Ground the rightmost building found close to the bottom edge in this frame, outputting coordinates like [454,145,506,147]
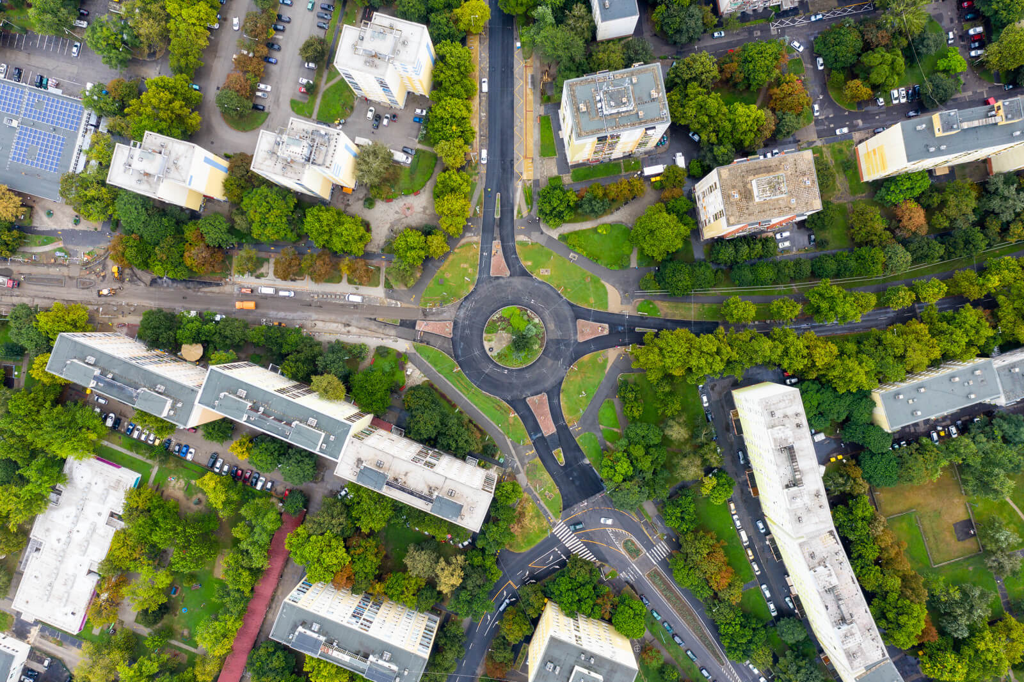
[524,600,638,682]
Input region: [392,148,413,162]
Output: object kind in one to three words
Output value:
vehicle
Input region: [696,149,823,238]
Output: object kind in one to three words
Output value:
building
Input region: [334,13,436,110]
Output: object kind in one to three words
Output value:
building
